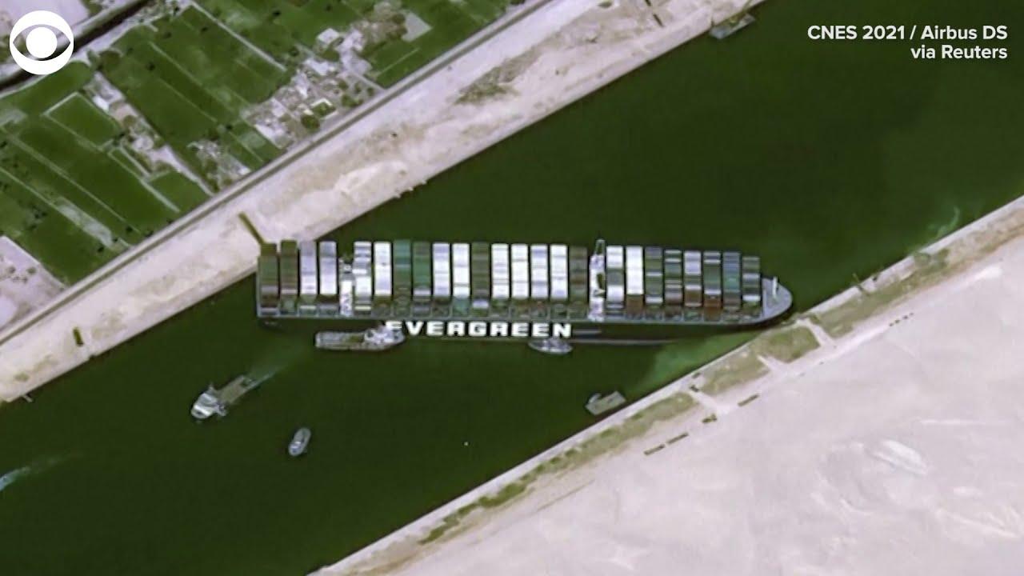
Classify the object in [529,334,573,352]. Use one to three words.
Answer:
boat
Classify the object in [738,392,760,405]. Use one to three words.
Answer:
vehicle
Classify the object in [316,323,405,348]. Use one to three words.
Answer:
ship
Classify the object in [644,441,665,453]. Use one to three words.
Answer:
vehicle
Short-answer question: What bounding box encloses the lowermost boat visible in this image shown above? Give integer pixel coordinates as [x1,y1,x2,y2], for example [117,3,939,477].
[291,429,310,456]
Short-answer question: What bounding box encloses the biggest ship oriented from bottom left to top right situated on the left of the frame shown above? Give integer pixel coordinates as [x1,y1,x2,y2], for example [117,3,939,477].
[190,372,255,420]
